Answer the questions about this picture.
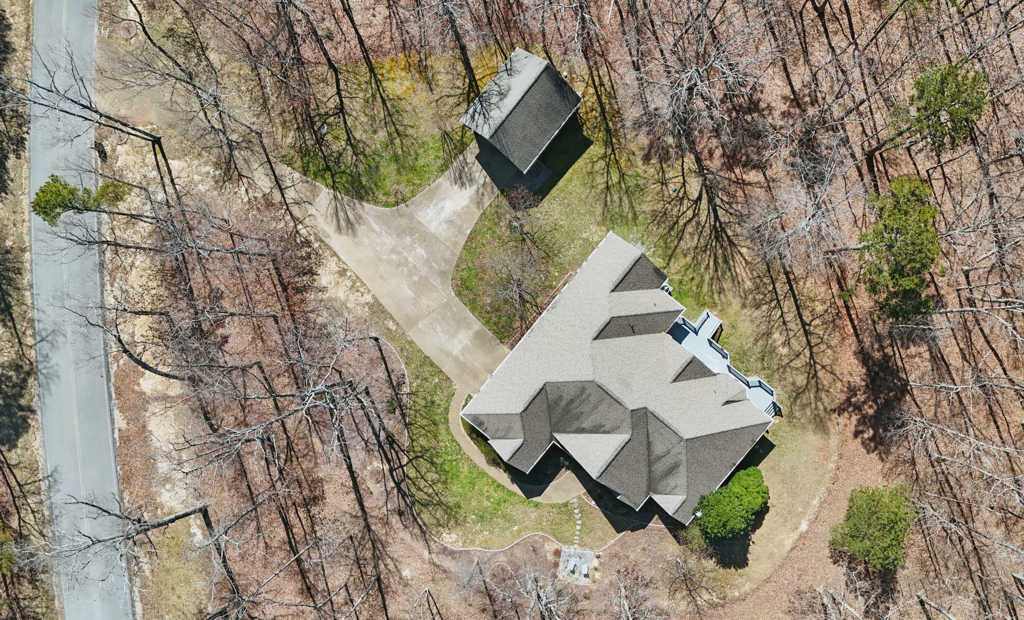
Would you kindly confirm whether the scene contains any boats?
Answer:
No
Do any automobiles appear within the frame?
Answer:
No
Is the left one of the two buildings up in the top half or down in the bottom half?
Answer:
top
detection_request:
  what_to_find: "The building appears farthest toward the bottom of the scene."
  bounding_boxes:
[461,230,773,529]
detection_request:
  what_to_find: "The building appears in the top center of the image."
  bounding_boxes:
[459,47,583,173]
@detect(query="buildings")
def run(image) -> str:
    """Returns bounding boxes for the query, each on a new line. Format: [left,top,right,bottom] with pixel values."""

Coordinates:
[459,47,583,173]
[461,230,773,529]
